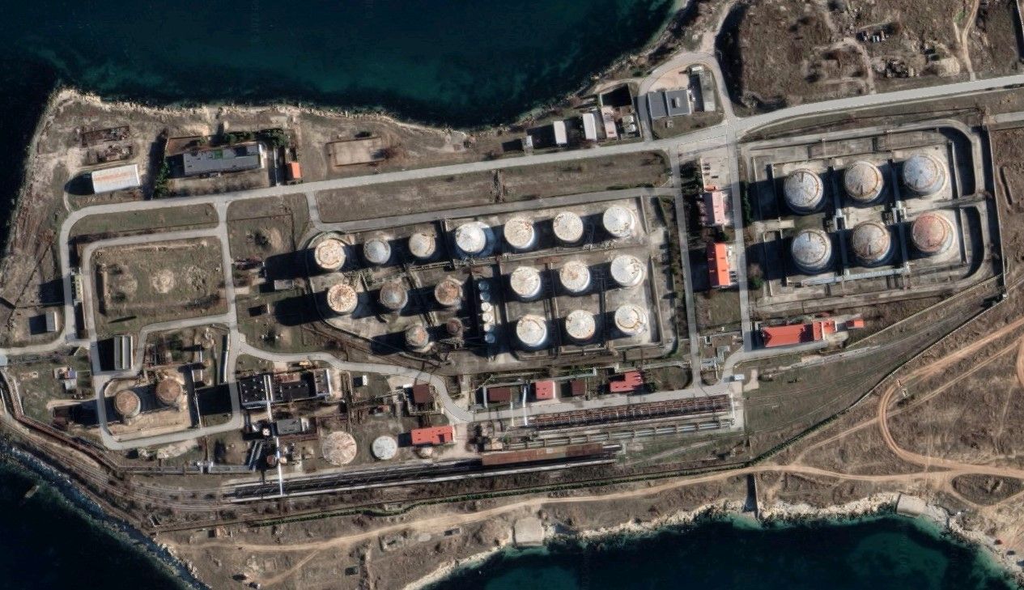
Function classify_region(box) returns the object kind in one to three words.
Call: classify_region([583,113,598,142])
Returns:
shed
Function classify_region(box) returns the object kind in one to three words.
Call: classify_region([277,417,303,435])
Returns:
building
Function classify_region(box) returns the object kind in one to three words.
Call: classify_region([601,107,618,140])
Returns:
shed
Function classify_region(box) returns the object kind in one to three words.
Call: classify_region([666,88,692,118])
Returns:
building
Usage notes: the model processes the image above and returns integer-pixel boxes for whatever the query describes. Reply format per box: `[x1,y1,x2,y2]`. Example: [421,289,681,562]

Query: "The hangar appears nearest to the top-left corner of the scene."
[91,165,142,194]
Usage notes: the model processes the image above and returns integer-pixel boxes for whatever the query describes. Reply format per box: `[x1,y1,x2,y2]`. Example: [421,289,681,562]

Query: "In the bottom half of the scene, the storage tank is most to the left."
[115,390,143,419]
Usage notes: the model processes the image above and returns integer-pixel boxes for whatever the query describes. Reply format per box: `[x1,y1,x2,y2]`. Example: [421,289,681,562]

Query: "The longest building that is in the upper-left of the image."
[184,143,261,177]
